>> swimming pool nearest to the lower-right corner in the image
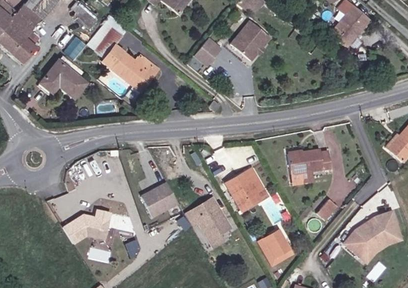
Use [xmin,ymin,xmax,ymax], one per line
[308,217,323,232]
